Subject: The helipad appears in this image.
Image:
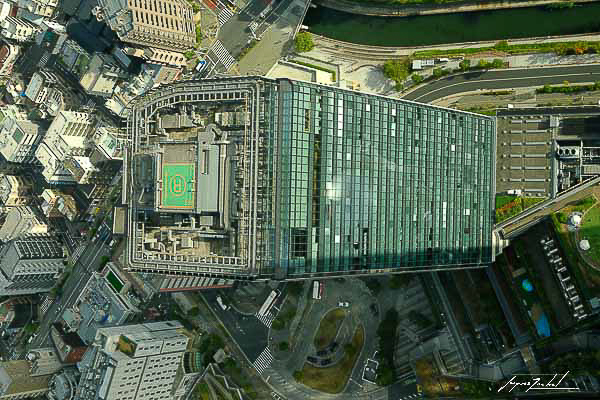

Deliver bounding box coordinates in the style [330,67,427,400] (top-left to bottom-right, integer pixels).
[154,139,199,214]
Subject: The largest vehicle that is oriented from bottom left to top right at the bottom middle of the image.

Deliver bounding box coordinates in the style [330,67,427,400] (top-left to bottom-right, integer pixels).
[257,290,276,313]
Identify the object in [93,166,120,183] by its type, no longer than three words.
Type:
house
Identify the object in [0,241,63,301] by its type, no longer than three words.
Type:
building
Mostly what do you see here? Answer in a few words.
buildings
